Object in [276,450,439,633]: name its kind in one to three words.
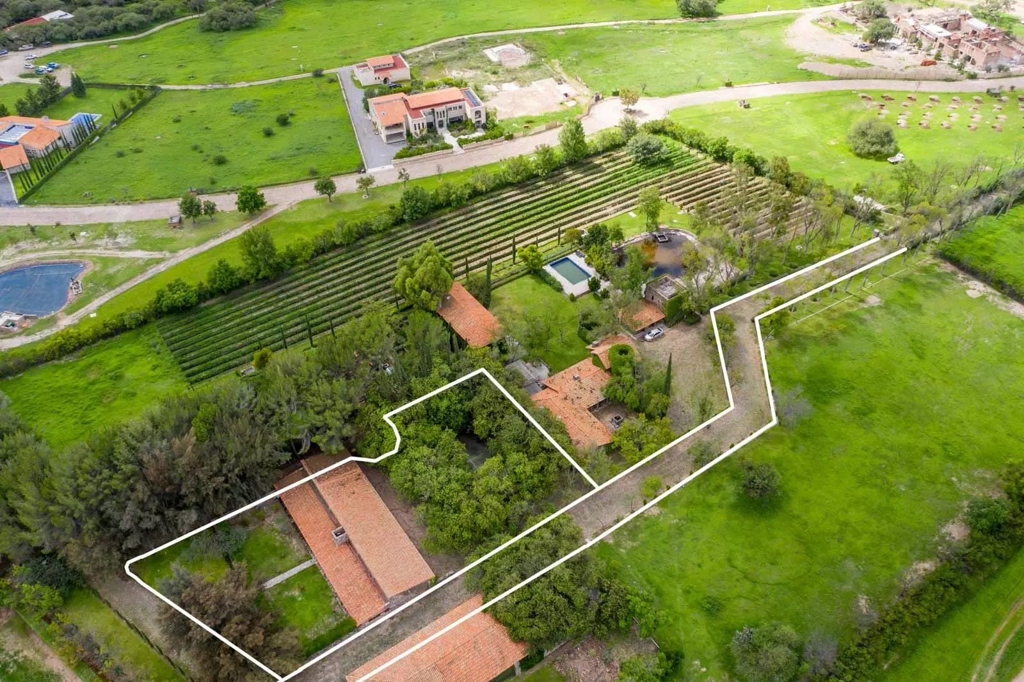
house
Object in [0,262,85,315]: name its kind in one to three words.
pond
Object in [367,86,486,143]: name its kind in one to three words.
house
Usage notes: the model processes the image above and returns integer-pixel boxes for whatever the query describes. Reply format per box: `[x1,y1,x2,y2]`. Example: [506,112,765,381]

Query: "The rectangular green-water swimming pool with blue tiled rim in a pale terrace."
[539,248,612,294]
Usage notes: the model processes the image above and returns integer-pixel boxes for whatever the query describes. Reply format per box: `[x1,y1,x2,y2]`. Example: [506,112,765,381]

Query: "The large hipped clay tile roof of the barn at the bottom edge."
[339,594,525,682]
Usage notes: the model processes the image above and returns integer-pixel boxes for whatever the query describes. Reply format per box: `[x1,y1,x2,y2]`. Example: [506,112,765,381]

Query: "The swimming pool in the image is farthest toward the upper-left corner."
[71,112,103,125]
